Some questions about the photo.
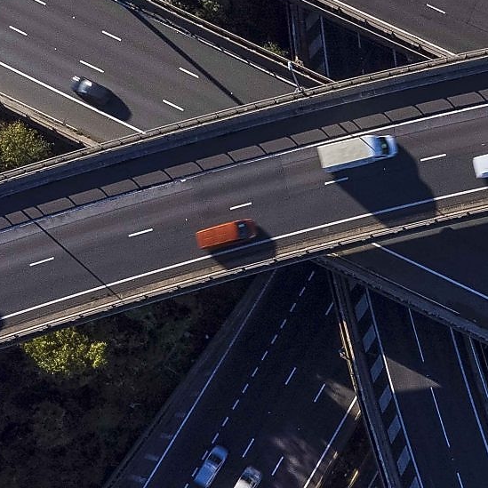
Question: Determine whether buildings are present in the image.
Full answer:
No, I find no building anywhere in the image.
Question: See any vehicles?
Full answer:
Yes, the picture does show a vehicle.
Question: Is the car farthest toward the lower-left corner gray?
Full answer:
No, the color of the car farthest toward the lower-left corner is blue.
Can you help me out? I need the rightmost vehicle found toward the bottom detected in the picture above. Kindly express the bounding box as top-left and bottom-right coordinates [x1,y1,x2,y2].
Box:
[237,468,262,488]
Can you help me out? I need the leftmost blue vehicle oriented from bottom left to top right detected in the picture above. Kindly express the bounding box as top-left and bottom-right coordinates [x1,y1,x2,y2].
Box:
[198,445,235,488]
